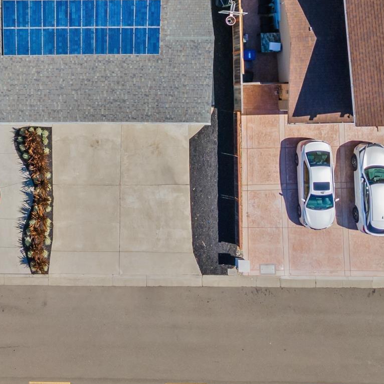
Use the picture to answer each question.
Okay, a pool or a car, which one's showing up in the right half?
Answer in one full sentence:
Looking in the right half, you will find a car.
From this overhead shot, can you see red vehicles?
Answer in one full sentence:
No, I find no red vehicle anywhere in the image.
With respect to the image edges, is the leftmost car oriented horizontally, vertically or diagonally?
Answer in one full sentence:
The leftmost car runs vertically in the image.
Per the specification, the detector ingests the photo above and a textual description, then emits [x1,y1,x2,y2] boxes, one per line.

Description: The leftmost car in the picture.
[291,138,339,232]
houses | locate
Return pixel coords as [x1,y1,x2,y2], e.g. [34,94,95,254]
[0,0,218,124]
[279,0,384,128]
